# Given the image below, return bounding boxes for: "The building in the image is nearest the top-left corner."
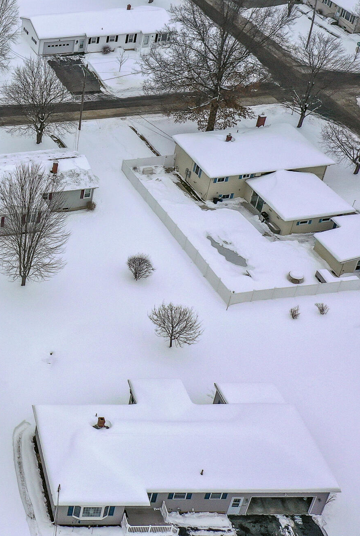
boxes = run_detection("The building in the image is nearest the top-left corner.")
[19,4,179,56]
